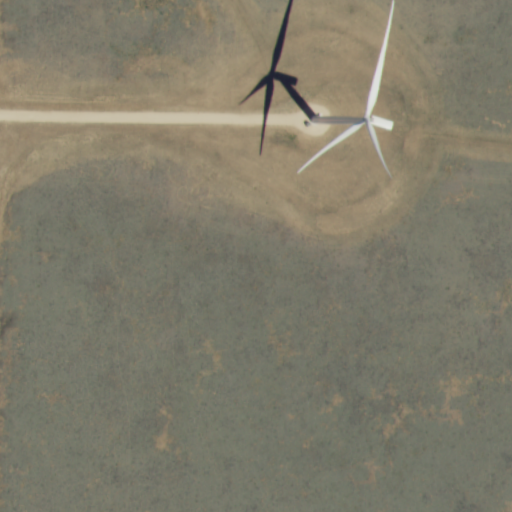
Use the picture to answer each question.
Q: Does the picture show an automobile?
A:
No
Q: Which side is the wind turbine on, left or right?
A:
right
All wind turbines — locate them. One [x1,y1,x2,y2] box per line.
[298,0,394,177]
